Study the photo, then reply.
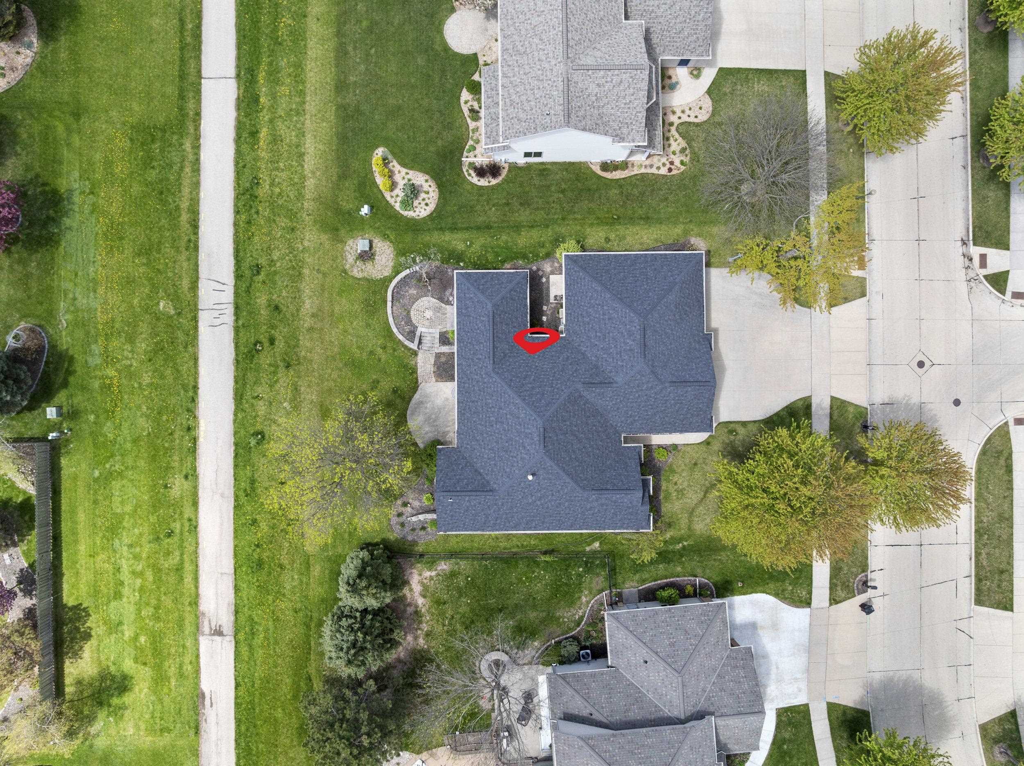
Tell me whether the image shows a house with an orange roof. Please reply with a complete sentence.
No, no house with an orange roof can be seen from above.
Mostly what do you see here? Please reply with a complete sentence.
The bulk of the photo consists of grass.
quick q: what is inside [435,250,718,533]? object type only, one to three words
house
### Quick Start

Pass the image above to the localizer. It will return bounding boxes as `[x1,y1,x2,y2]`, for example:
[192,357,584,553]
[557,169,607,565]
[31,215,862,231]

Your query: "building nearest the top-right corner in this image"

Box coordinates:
[462,0,711,173]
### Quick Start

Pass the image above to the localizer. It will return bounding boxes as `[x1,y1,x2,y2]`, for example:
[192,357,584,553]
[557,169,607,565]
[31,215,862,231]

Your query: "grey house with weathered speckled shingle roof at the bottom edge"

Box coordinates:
[537,570,766,766]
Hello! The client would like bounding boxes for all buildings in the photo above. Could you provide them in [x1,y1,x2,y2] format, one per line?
[435,250,718,533]
[537,570,766,766]
[462,0,711,173]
